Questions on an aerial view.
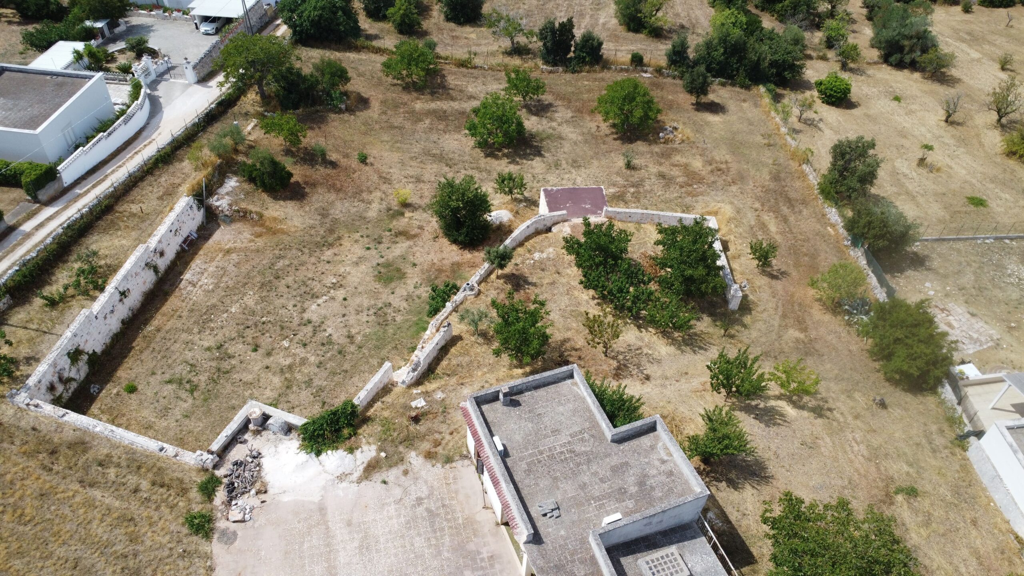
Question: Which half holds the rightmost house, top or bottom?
bottom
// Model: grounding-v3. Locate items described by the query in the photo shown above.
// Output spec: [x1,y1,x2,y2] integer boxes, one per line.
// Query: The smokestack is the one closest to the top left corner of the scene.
[463,277,478,297]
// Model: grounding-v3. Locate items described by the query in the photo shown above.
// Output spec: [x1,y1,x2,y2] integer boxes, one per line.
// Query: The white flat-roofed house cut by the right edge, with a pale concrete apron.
[980,418,1024,513]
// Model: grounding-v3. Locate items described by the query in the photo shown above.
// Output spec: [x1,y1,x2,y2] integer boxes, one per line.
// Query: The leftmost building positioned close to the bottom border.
[463,364,730,576]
